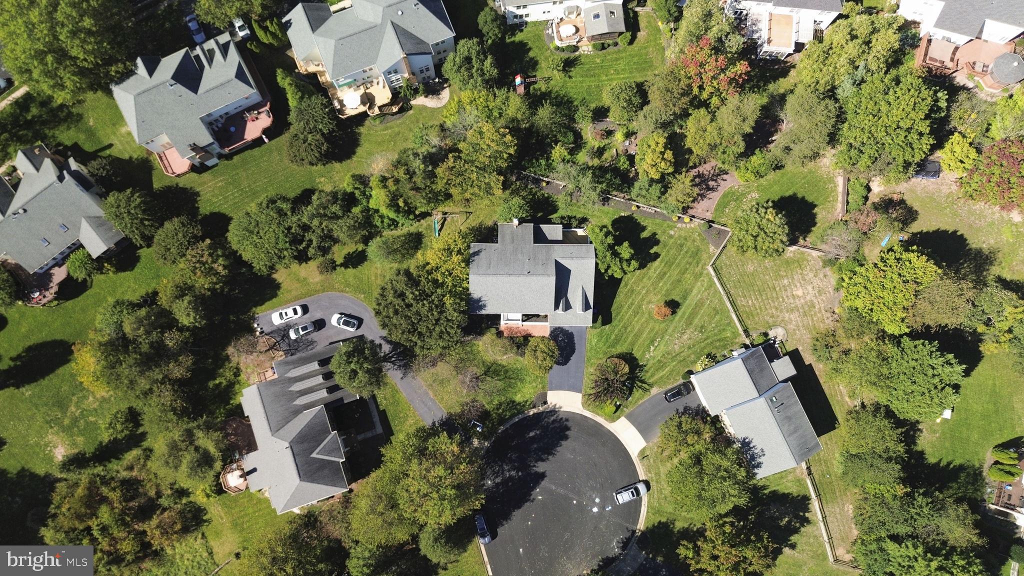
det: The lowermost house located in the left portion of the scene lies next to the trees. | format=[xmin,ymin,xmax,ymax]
[218,342,360,515]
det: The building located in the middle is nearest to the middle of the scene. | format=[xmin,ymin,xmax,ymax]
[469,219,596,327]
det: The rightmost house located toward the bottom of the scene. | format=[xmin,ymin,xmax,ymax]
[976,458,1024,527]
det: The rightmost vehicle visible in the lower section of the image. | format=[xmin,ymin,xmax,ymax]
[662,382,695,403]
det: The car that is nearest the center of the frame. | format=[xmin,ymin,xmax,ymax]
[330,313,361,332]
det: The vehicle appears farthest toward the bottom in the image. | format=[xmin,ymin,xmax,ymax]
[474,512,493,545]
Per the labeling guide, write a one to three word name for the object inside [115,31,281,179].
house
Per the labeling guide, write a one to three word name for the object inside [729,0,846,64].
house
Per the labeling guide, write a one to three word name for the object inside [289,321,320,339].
car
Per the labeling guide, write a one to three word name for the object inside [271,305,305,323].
car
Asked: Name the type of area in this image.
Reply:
residential area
